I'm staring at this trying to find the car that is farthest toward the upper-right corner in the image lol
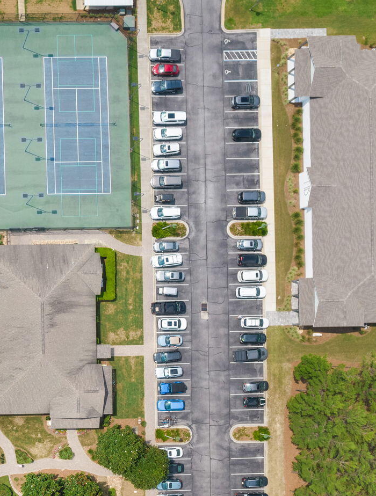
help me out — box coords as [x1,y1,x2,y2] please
[230,96,259,110]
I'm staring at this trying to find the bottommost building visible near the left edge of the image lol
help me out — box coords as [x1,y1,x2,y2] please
[0,244,113,428]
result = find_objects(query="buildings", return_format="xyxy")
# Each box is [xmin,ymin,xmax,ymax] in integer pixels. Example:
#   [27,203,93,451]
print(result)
[82,0,133,14]
[0,244,113,428]
[286,34,376,326]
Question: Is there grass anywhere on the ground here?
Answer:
Yes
